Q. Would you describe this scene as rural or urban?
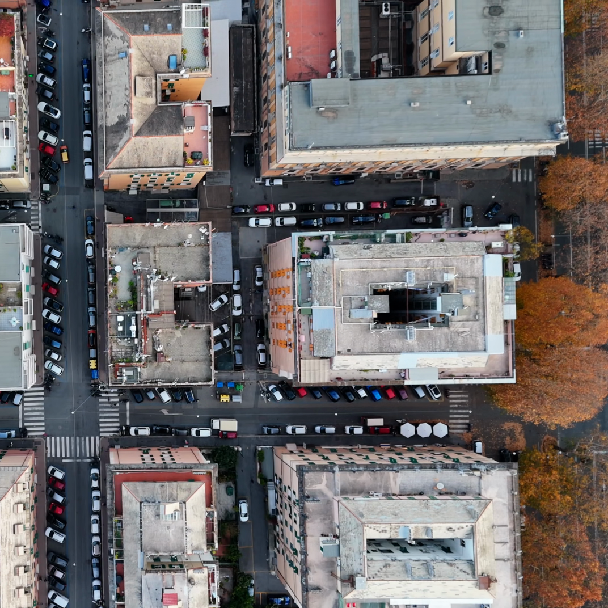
urban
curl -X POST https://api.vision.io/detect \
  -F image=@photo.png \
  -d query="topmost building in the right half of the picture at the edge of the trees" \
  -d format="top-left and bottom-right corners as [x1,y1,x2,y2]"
[250,0,567,174]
